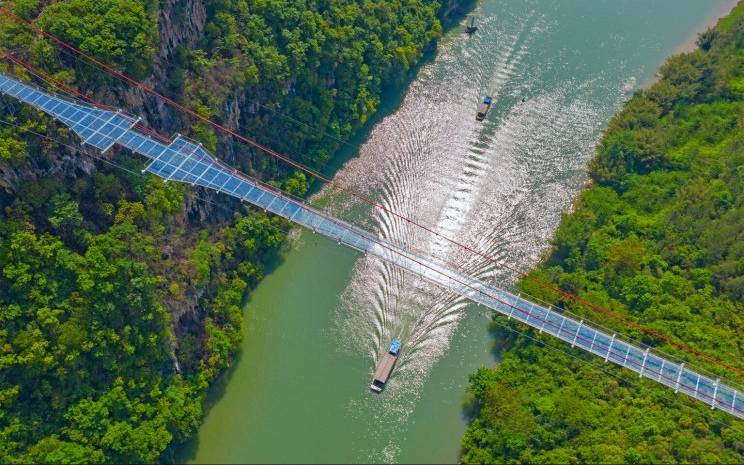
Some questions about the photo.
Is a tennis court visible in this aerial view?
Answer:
No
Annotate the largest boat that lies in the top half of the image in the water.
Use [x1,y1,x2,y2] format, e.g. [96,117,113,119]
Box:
[477,95,490,120]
